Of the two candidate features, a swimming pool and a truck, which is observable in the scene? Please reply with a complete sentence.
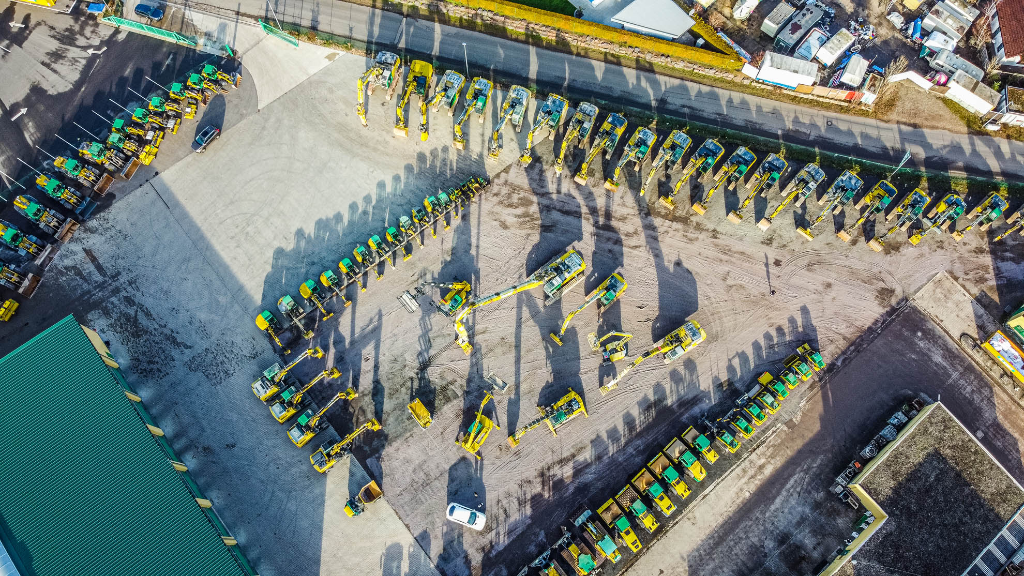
This aerial view contains a truck.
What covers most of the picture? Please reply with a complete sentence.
Most of the picture is covered by paved ground.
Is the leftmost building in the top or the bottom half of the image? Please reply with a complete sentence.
The bottom half of the photo is where the leftmost building is.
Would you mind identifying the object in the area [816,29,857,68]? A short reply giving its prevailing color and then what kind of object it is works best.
white camper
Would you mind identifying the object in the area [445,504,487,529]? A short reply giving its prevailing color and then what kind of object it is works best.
white car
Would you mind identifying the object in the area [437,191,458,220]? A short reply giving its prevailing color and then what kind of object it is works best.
green work vehicle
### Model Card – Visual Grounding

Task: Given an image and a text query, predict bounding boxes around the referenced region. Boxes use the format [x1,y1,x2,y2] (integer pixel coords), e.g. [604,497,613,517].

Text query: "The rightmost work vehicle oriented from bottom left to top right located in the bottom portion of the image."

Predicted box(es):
[598,317,712,396]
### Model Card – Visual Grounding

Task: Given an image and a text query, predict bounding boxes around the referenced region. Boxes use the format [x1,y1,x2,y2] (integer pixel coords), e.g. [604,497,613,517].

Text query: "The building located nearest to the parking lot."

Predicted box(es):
[0,312,273,576]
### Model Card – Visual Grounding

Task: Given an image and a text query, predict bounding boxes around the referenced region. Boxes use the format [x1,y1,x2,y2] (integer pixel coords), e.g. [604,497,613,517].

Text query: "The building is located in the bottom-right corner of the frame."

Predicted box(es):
[818,399,1024,576]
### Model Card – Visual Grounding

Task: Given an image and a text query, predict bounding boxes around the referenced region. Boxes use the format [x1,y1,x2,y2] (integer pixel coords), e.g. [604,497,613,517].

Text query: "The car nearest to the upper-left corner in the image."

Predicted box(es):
[134,4,165,22]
